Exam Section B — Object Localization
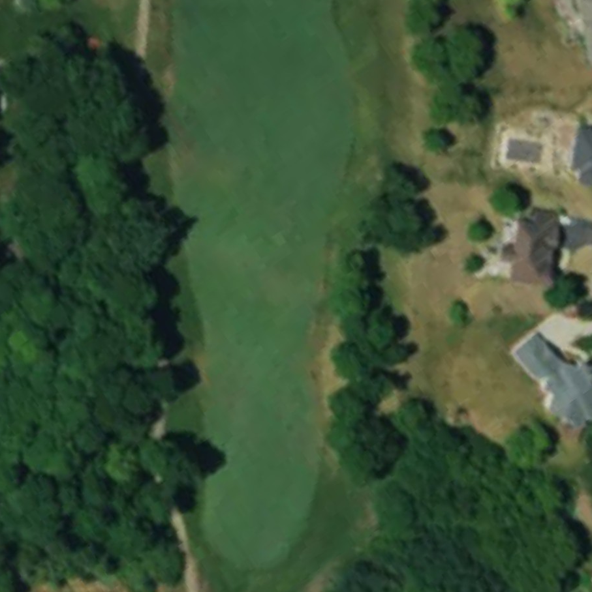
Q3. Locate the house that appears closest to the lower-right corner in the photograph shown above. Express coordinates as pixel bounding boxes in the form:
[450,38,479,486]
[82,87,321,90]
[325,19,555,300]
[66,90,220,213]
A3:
[517,333,592,428]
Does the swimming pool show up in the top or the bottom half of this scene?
top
